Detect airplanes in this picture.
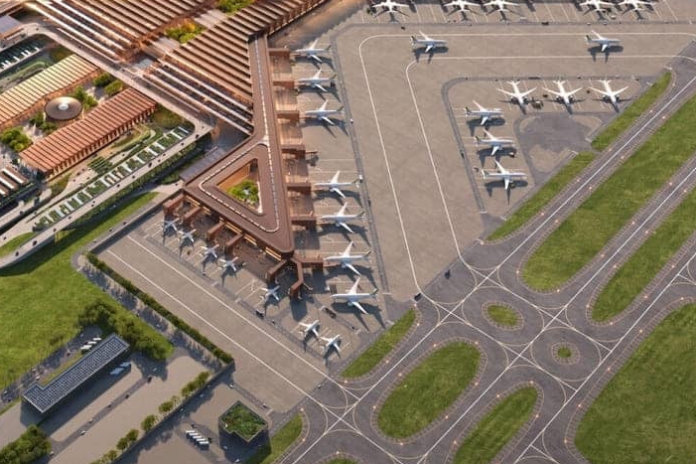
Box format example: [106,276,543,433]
[317,169,356,196]
[158,217,182,233]
[412,33,442,50]
[332,279,376,311]
[196,242,220,259]
[498,77,533,103]
[484,0,513,10]
[307,98,343,121]
[475,128,512,152]
[589,76,623,103]
[294,38,328,58]
[583,0,612,9]
[175,227,198,244]
[484,159,523,184]
[299,68,334,89]
[216,254,240,272]
[315,332,341,352]
[294,318,320,337]
[375,0,405,10]
[468,99,504,121]
[447,0,476,10]
[257,282,282,300]
[542,77,577,101]
[321,199,362,227]
[326,239,368,269]
[588,33,618,49]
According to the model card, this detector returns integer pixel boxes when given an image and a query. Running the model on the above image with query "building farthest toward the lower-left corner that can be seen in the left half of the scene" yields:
[23,333,129,420]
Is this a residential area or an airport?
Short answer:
airport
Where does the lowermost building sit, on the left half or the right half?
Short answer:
left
